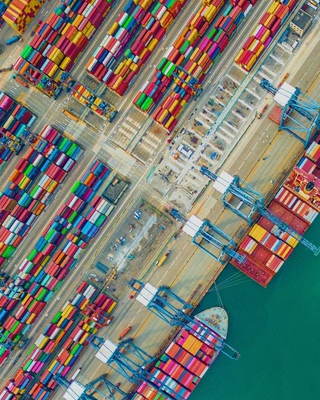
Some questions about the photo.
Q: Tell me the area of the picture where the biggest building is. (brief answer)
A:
top right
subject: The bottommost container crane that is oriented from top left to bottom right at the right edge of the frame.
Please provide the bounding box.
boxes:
[200,165,320,257]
